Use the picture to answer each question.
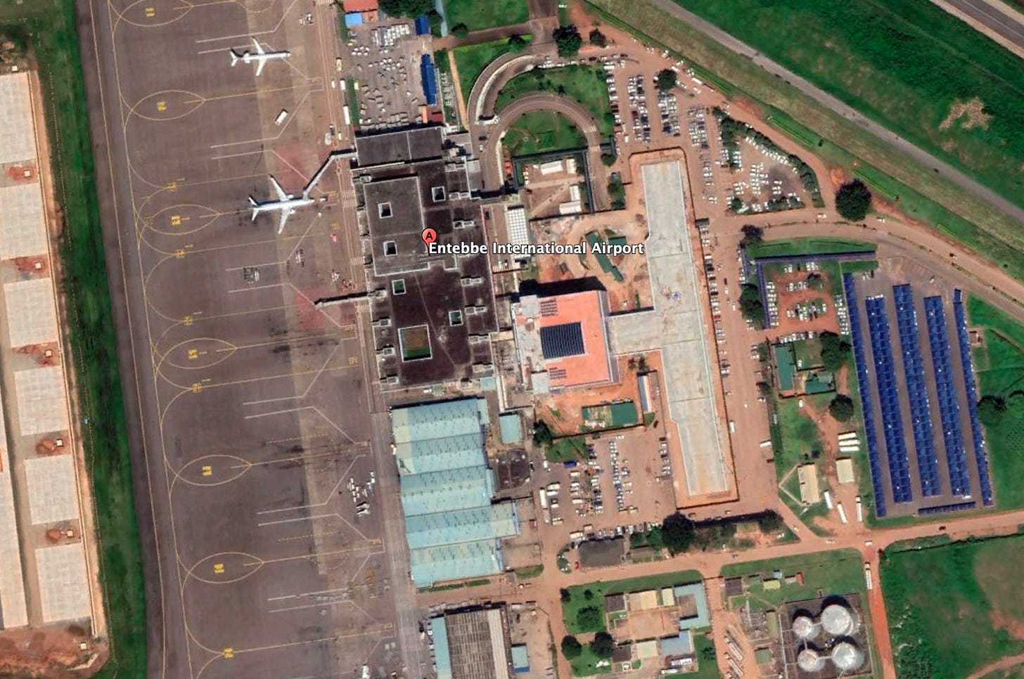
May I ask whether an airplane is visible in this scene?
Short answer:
Yes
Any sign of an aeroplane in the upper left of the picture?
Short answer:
Yes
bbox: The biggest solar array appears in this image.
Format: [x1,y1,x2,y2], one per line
[540,321,584,359]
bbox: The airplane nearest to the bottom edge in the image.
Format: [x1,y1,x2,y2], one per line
[248,177,314,234]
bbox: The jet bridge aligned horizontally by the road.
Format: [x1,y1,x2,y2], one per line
[314,296,369,309]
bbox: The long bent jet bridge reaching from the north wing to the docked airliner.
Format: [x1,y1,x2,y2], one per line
[302,151,358,200]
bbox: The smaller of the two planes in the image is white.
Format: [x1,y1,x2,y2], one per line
[226,39,291,76]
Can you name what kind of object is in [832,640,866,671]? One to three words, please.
storage tank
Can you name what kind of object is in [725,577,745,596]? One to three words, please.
building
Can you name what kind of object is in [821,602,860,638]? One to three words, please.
storage tank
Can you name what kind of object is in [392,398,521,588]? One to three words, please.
hangar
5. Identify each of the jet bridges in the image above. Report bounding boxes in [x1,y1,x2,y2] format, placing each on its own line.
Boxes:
[314,296,369,309]
[302,151,358,200]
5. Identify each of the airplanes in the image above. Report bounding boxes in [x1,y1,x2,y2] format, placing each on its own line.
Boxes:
[226,39,291,76]
[248,177,314,234]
